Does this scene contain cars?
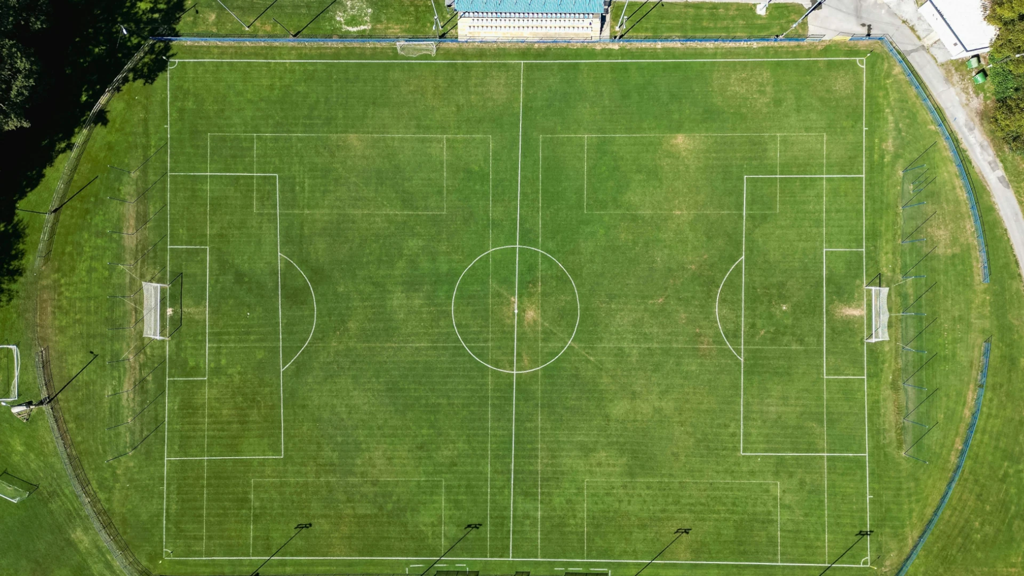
No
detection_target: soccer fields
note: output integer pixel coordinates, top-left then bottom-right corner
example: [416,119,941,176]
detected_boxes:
[151,50,881,576]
